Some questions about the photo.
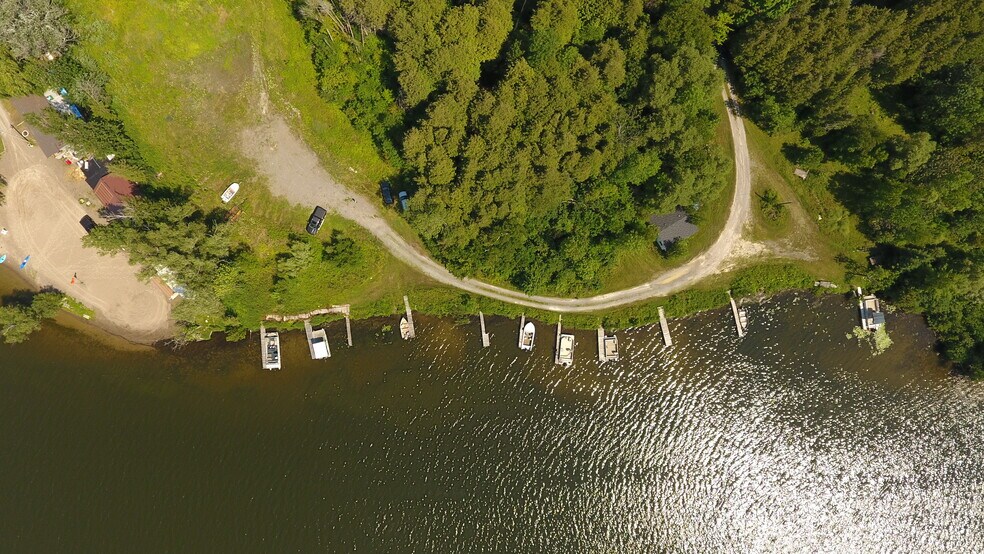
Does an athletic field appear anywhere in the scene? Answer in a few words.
No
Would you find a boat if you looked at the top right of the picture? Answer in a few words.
No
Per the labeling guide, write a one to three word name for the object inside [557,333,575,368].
boat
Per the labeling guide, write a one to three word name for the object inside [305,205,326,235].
truck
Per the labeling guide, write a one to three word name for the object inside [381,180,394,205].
vehicle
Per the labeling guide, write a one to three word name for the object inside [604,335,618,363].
boat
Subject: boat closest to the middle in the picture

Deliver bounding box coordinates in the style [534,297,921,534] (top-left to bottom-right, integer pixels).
[522,322,534,353]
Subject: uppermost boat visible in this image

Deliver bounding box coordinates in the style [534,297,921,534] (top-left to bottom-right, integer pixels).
[219,181,238,204]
